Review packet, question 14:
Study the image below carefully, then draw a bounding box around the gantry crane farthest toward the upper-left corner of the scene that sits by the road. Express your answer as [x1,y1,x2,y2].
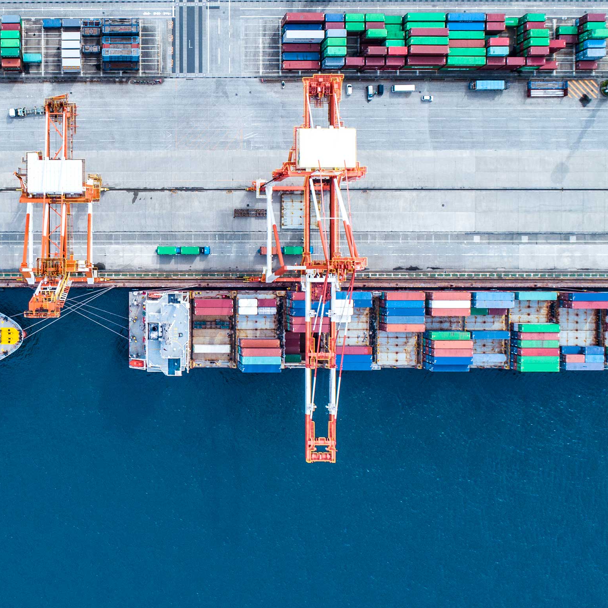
[16,91,108,316]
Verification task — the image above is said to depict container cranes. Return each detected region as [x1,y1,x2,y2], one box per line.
[16,91,108,316]
[244,74,368,464]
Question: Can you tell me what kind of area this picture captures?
port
